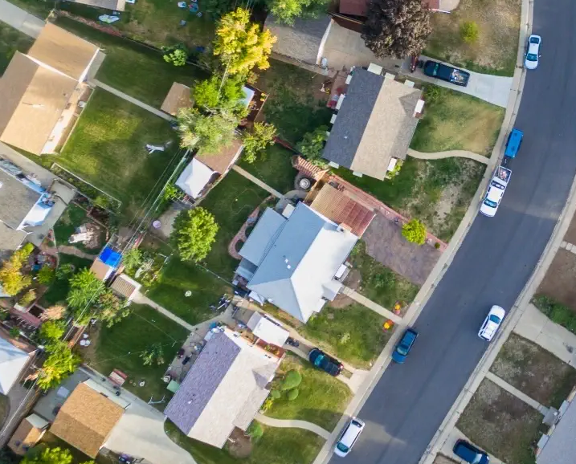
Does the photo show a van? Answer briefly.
Yes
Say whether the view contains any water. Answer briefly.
No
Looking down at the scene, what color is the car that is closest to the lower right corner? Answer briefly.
blue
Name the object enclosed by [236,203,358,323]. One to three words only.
house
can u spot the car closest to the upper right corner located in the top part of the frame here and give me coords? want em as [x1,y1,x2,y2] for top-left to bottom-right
[524,34,541,69]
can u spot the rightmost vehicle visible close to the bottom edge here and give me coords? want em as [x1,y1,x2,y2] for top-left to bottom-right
[452,439,491,464]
